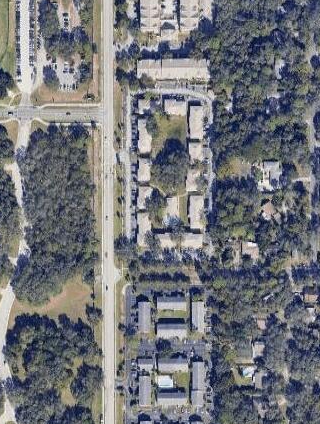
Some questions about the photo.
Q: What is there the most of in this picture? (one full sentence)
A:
Most of the picture is covered by trees.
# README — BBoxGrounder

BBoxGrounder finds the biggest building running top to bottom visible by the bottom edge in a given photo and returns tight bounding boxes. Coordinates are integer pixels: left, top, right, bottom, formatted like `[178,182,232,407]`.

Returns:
[192,362,205,406]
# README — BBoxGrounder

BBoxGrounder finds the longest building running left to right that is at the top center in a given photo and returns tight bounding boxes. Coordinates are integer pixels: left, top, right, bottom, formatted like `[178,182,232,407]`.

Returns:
[137,59,210,80]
